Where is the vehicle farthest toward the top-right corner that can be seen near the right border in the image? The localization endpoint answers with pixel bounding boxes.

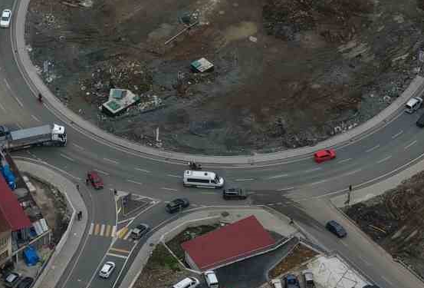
[402,96,424,113]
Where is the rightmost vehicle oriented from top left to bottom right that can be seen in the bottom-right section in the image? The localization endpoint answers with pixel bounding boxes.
[325,218,347,238]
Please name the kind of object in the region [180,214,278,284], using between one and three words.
shed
